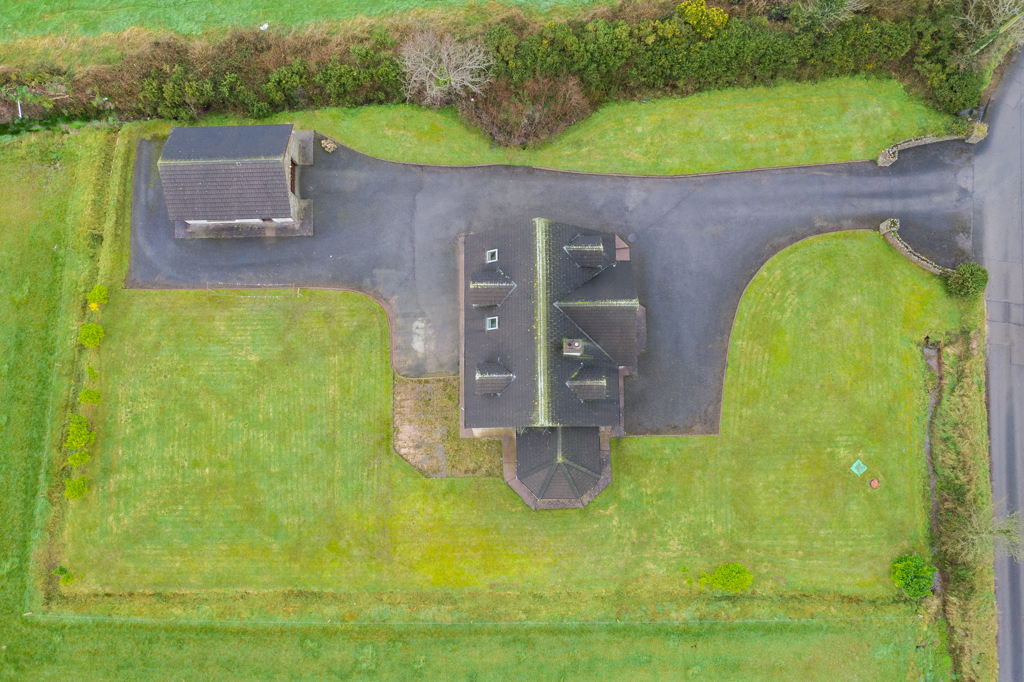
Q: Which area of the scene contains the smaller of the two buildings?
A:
top left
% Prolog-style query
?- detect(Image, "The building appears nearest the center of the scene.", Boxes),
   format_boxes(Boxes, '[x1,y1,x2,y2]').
[463,217,642,501]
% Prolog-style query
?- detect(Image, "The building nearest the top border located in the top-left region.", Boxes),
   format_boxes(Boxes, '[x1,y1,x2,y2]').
[156,122,301,225]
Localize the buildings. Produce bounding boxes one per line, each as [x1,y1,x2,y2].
[463,217,642,501]
[156,122,301,225]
